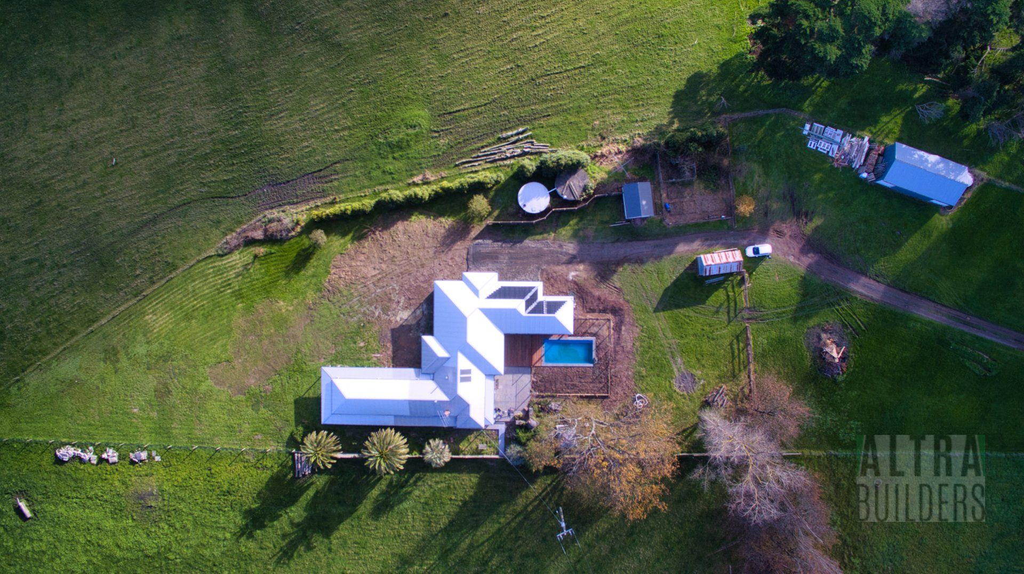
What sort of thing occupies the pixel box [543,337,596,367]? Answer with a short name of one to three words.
swimming pool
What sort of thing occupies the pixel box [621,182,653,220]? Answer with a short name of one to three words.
shed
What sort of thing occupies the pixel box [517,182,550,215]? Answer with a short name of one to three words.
water tank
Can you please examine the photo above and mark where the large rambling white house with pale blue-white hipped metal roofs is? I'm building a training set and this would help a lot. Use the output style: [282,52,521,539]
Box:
[321,272,574,428]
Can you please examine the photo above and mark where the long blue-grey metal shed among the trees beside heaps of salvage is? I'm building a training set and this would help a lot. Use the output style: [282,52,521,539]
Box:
[866,143,971,209]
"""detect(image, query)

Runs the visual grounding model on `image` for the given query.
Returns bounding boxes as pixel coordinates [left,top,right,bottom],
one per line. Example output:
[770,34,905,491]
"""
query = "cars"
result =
[745,245,772,257]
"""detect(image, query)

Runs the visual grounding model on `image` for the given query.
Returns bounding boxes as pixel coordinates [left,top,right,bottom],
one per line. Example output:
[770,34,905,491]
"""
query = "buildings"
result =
[621,182,653,220]
[866,143,971,209]
[696,250,742,276]
[321,272,574,428]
